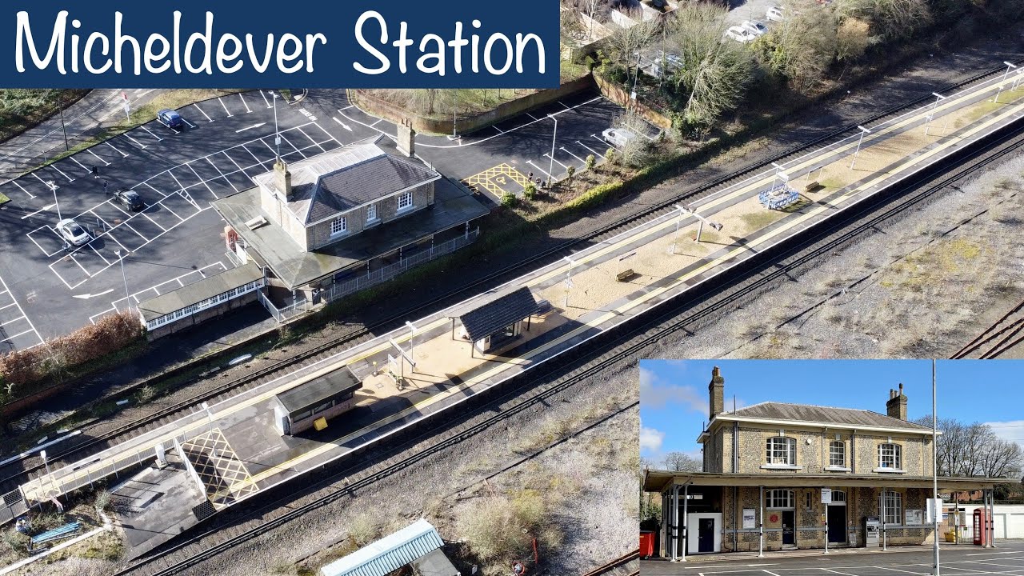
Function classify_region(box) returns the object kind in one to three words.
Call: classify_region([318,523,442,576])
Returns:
shed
